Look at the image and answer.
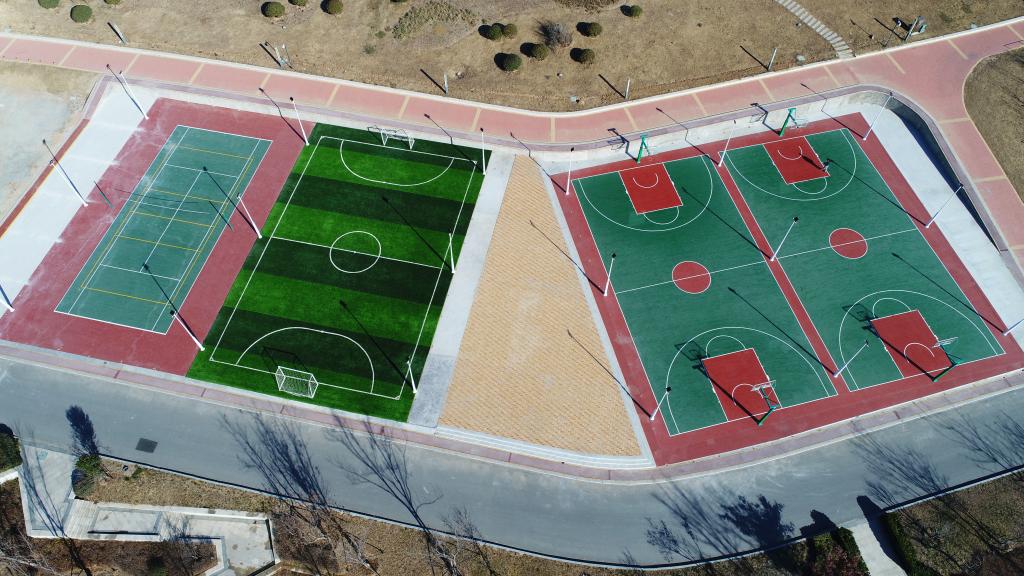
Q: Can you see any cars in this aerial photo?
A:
No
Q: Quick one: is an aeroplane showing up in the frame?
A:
No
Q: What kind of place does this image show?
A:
sports ground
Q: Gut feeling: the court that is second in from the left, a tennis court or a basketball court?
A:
basketball court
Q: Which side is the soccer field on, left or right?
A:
left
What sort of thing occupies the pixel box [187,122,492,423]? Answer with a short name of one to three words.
soccer field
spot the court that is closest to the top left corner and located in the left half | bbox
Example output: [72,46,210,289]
[0,98,315,377]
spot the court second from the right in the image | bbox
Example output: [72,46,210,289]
[550,143,849,466]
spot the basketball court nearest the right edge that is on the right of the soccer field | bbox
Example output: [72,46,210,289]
[710,113,1024,418]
